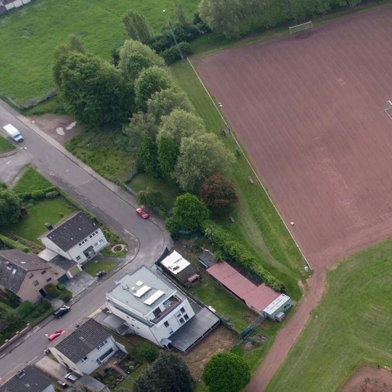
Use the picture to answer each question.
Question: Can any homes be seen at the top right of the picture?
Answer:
No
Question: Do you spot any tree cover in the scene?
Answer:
Yes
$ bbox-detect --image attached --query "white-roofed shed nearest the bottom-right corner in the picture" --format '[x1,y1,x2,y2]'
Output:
[262,294,292,322]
